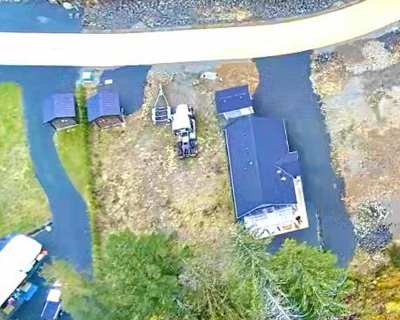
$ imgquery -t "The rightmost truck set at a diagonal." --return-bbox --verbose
[33,284,68,320]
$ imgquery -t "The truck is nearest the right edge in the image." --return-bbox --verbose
[179,101,205,160]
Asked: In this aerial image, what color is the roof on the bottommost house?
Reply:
blue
